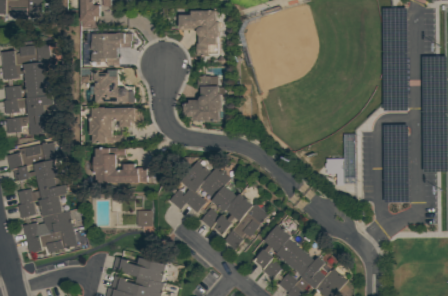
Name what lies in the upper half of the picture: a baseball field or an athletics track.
baseball field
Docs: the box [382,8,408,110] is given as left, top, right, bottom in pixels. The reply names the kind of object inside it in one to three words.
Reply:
solar array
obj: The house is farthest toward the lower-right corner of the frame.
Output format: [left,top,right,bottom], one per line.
[318,272,345,296]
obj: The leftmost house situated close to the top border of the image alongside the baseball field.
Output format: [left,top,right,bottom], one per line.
[178,10,220,55]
